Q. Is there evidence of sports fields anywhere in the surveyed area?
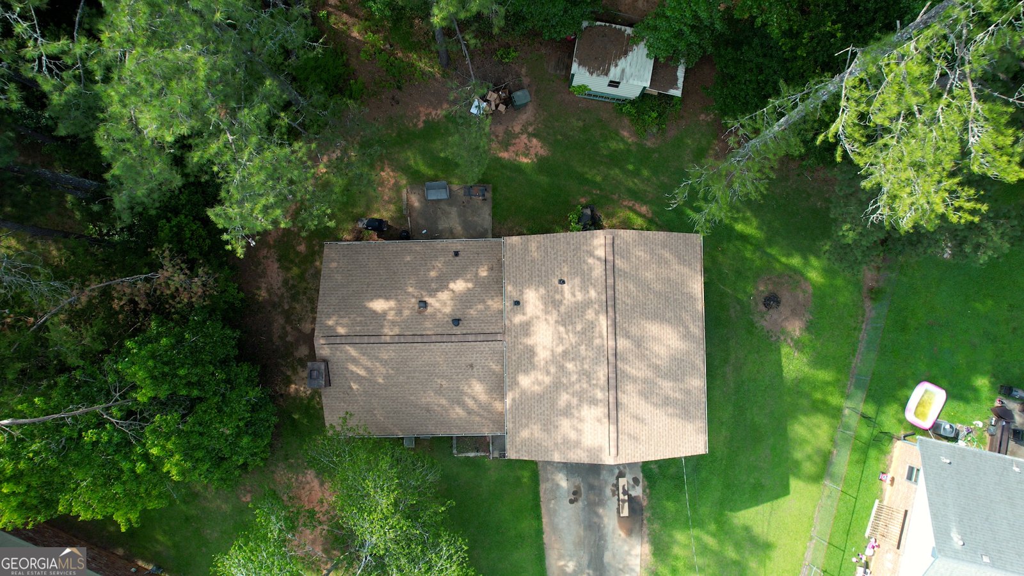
No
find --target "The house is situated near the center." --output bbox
[308,230,712,465]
